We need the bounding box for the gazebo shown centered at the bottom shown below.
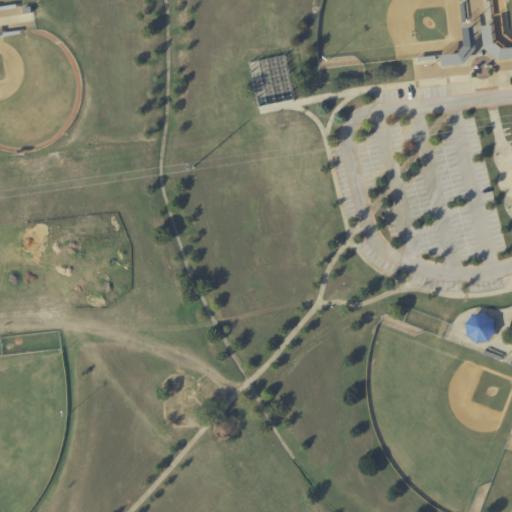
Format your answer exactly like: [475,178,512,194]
[214,420,234,439]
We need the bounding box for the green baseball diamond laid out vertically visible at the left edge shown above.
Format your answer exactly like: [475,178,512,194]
[0,332,66,512]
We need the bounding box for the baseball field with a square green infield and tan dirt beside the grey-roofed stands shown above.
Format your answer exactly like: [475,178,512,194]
[319,0,461,66]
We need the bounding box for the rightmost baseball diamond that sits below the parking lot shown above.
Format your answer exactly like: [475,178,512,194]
[368,319,512,512]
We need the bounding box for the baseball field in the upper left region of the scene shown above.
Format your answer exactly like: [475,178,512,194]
[0,28,83,153]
